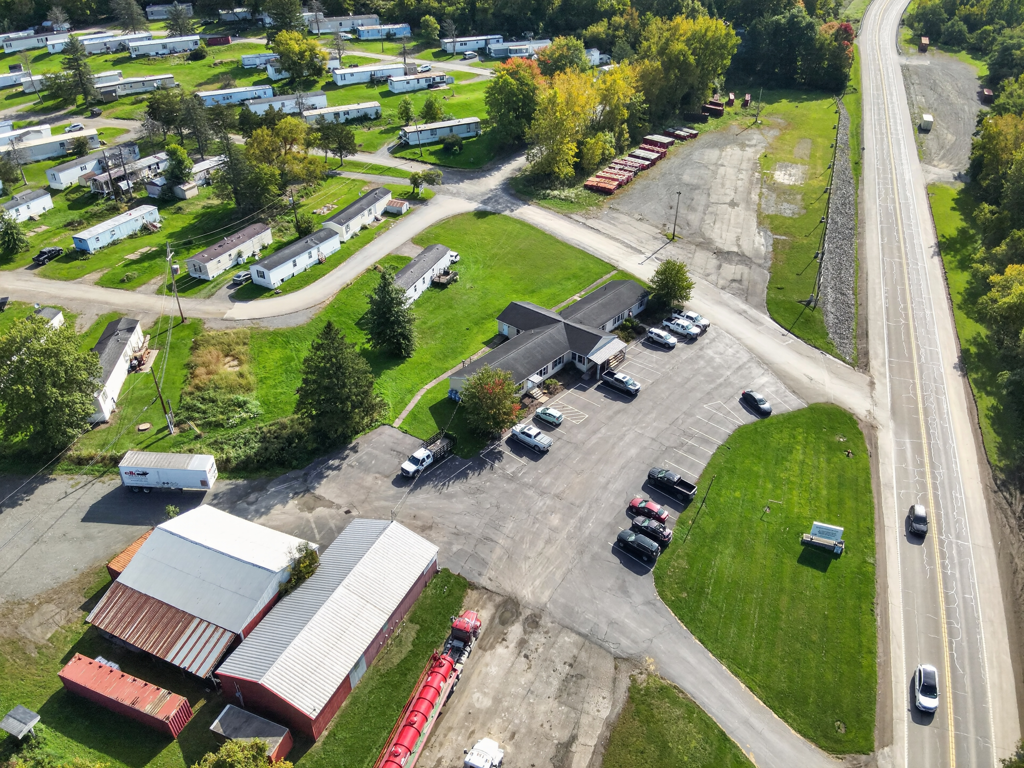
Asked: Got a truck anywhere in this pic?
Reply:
Yes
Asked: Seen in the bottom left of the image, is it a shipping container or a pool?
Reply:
shipping container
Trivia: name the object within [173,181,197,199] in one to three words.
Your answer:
shed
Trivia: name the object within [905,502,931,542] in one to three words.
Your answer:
car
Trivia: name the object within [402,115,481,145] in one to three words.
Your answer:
house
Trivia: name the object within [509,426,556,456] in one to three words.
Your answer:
truck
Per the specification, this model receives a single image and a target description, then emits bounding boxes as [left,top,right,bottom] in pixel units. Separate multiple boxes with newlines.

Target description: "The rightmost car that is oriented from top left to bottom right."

[738,391,774,418]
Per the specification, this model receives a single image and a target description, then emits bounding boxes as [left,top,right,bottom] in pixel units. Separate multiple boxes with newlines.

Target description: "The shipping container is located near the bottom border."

[59,652,193,738]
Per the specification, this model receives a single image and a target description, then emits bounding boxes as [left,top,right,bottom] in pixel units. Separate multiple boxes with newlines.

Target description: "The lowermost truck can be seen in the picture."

[465,733,507,768]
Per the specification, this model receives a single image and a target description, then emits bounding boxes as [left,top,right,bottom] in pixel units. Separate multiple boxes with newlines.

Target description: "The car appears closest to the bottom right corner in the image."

[911,662,943,717]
